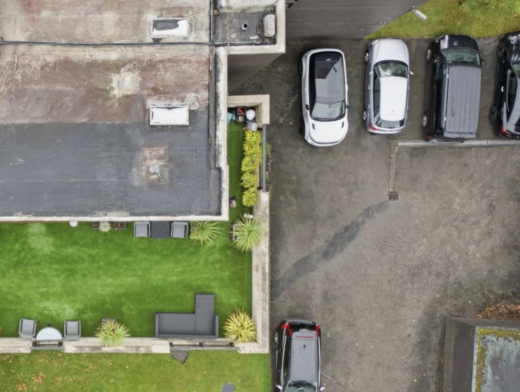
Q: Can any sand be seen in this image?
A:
No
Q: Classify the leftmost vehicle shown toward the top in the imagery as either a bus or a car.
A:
car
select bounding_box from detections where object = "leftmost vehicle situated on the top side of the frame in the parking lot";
[298,49,353,149]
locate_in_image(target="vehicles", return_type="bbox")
[273,318,325,392]
[420,36,483,143]
[484,31,520,140]
[358,39,414,136]
[298,49,353,149]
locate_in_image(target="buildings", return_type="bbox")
[440,319,520,392]
[0,0,427,353]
